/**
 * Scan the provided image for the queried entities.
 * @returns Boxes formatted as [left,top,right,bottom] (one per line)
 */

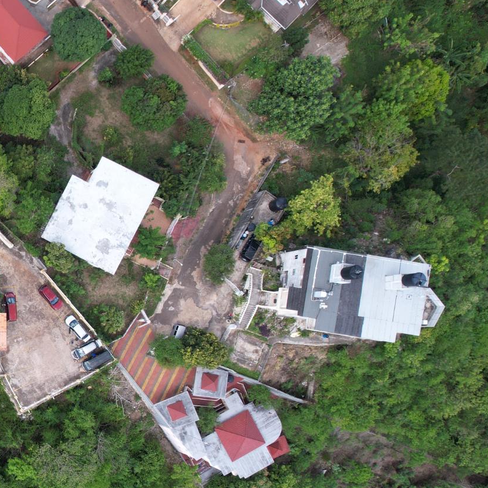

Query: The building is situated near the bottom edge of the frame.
[151,367,291,485]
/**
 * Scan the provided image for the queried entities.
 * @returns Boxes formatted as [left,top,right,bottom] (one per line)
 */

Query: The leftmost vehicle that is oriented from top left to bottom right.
[38,282,63,313]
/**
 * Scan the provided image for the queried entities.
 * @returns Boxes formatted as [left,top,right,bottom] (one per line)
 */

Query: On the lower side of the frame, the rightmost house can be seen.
[264,245,444,343]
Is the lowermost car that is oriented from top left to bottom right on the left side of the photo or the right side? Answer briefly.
left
